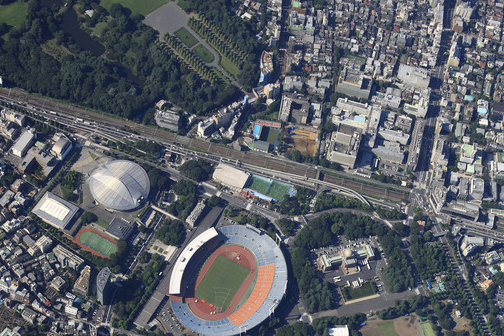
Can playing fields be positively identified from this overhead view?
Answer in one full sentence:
Yes, there's a playing field down there.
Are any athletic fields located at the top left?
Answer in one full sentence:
No, no athletic field can be made out at the top left.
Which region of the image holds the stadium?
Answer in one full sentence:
You can find the stadium in the bottom area of the picture.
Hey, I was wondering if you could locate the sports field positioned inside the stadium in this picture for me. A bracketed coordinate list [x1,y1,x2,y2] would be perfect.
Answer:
[194,254,251,310]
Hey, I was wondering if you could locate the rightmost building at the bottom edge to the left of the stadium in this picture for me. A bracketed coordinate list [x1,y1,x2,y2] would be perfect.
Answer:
[137,289,165,320]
